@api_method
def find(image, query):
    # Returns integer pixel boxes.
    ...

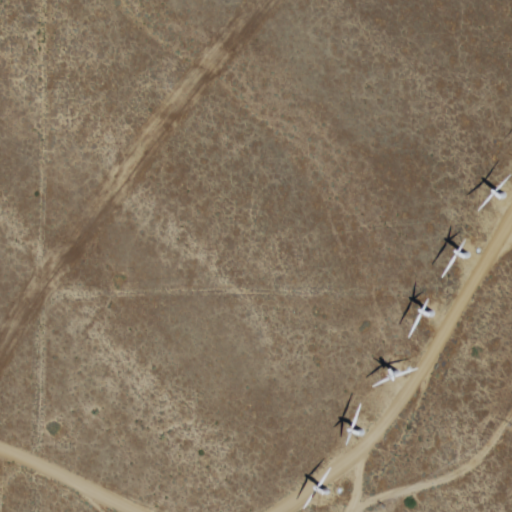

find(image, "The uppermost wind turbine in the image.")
[476,172,510,208]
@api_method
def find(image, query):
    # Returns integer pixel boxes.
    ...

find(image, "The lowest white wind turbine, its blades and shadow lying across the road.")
[302,468,332,509]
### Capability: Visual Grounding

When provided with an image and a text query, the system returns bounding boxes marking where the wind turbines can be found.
[374,367,418,388]
[344,404,366,446]
[302,468,332,509]
[408,296,437,336]
[442,238,473,276]
[476,172,510,208]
